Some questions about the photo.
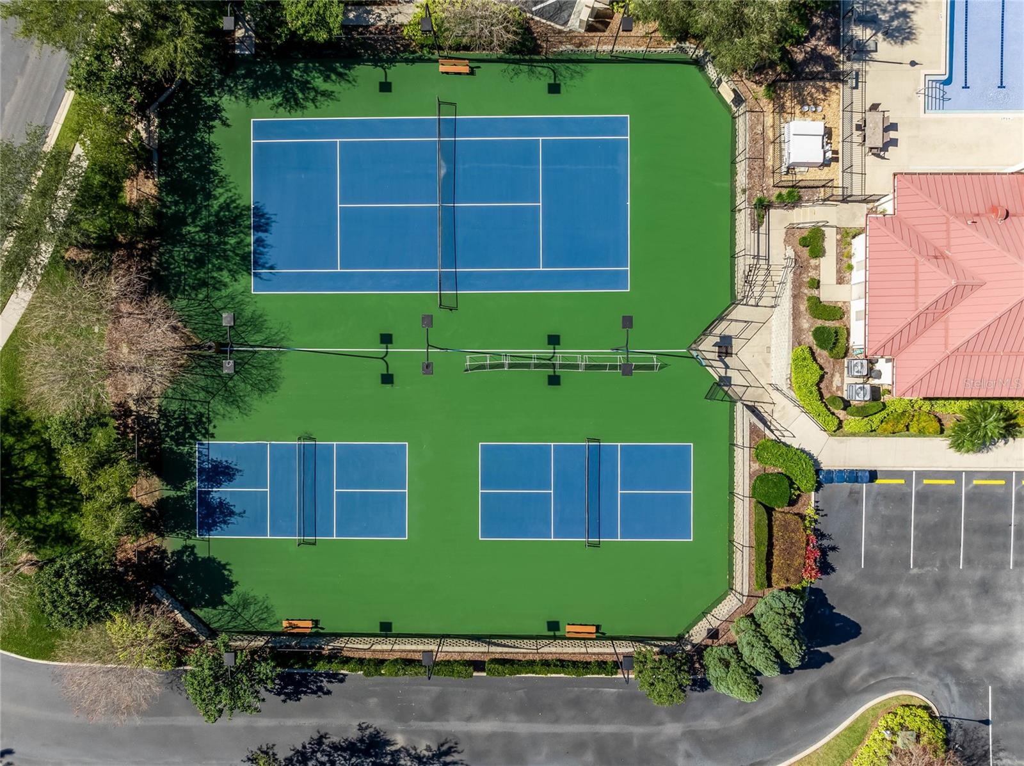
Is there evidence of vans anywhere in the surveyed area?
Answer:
No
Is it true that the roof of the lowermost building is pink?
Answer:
Yes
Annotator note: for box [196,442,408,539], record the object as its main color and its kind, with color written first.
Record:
blue sports court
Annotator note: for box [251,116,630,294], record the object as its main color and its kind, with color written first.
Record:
blue tennis court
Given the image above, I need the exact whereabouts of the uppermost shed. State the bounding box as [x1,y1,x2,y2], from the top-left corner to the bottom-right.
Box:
[777,121,828,184]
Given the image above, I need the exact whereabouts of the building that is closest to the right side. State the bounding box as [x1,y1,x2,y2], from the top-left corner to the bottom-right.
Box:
[852,159,1024,398]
